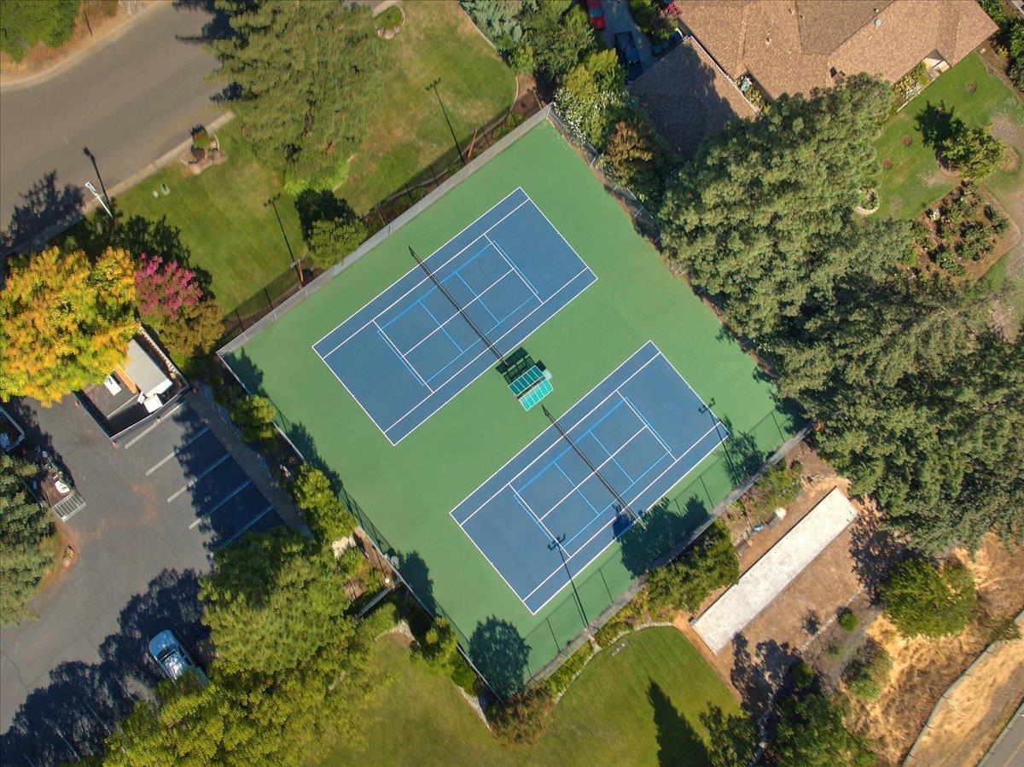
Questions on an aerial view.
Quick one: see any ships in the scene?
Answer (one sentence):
No, there appears to be no ship in this shot.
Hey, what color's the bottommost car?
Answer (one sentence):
From above, the bottommost car appears blue.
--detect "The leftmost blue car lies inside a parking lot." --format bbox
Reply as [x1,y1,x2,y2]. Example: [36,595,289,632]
[149,624,201,694]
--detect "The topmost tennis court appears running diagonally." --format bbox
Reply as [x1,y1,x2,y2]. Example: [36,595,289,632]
[312,188,597,445]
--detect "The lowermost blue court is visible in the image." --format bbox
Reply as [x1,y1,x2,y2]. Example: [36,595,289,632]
[450,341,729,613]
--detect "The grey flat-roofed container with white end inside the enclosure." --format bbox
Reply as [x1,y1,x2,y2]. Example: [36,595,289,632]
[123,338,176,397]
